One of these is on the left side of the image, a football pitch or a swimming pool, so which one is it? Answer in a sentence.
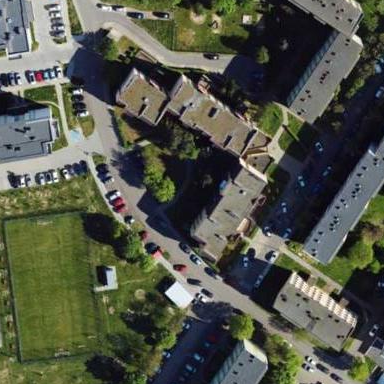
Visible on the left side of the image is a football pitch.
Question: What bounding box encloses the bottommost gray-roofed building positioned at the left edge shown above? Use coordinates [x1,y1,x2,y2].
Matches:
[0,111,53,161]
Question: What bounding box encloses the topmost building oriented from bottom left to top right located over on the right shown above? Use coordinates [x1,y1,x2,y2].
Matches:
[287,29,363,123]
